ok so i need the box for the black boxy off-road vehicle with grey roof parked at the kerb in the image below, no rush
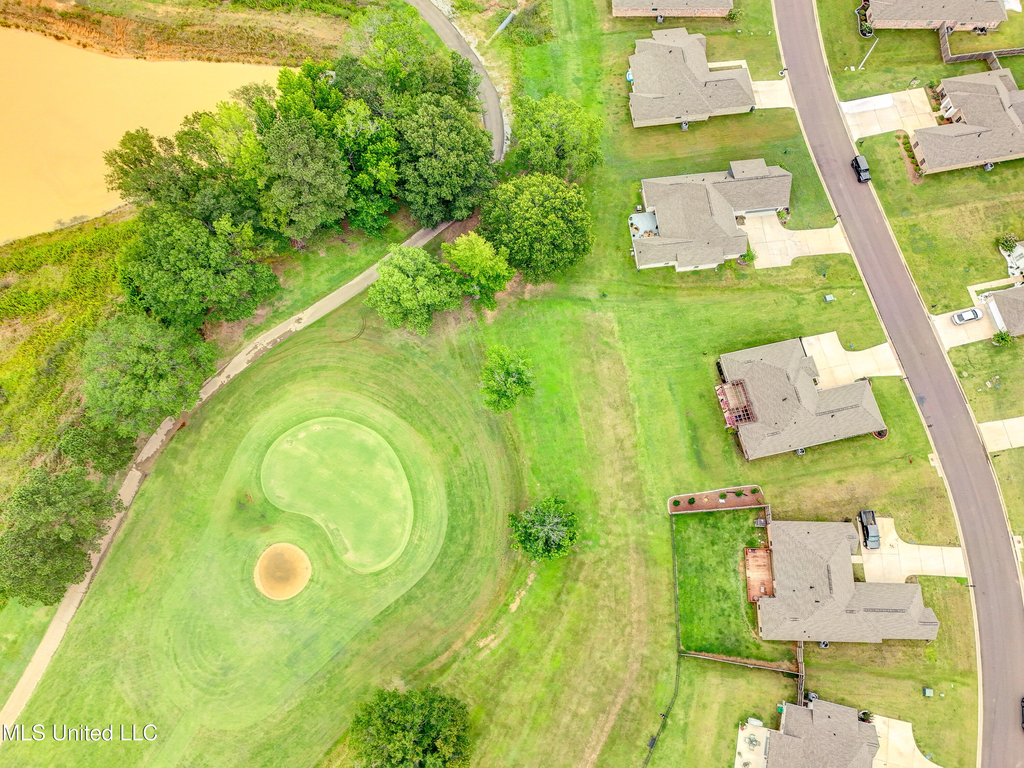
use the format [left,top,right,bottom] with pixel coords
[852,157,872,184]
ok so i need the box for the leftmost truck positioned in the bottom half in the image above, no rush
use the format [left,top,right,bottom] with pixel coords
[859,512,882,555]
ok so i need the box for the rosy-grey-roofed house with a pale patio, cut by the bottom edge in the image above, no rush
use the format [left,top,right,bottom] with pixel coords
[763,697,879,768]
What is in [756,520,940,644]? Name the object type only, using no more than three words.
house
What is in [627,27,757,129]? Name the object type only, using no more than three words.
house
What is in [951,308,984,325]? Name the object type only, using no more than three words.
car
